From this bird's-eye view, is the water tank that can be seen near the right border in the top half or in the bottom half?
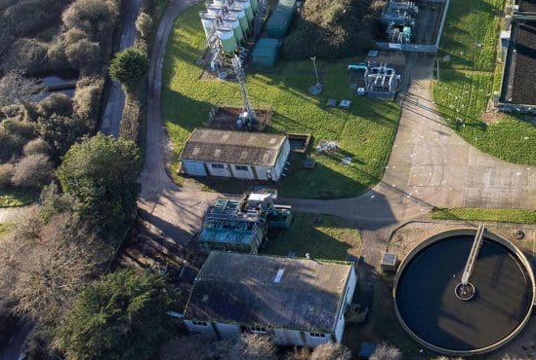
bottom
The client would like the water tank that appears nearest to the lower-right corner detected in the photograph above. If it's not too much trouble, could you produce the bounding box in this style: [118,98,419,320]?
[393,223,536,360]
